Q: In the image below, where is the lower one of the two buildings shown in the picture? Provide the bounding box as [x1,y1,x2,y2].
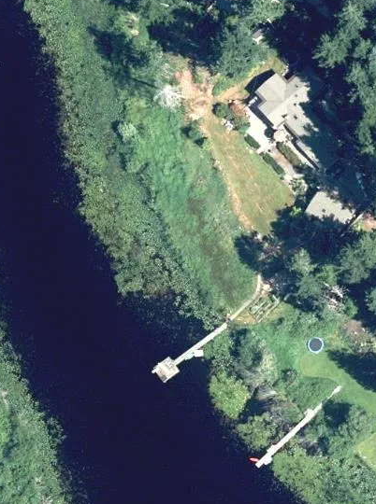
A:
[304,191,361,224]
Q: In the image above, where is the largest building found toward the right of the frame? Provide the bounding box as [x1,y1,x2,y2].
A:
[255,73,337,166]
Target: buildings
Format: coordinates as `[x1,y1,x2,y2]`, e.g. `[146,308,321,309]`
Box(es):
[304,191,361,224]
[255,73,337,166]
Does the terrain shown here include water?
Yes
